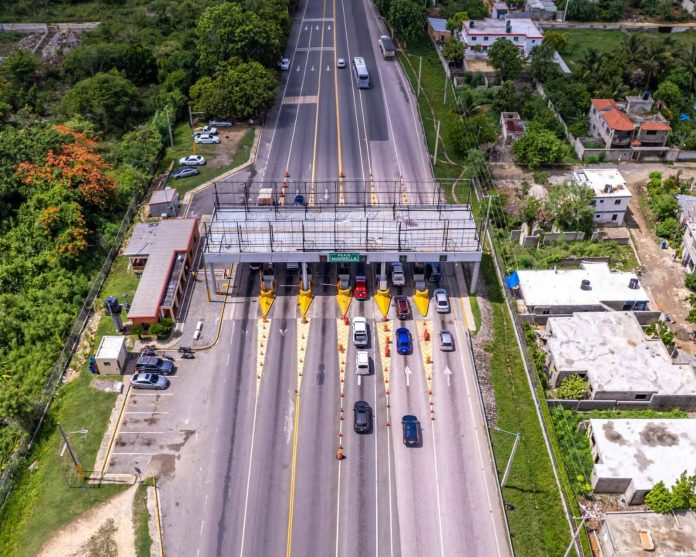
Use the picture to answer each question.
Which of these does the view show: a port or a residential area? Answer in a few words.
residential area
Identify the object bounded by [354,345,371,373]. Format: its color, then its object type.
white car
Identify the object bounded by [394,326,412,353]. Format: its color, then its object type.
blue car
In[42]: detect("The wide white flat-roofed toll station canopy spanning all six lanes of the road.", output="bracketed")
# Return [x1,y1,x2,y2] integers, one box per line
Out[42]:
[203,205,484,294]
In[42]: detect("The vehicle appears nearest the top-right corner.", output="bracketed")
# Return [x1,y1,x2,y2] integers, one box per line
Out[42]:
[379,35,396,58]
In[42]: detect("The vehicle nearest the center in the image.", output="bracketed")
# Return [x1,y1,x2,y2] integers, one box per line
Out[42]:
[353,271,368,296]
